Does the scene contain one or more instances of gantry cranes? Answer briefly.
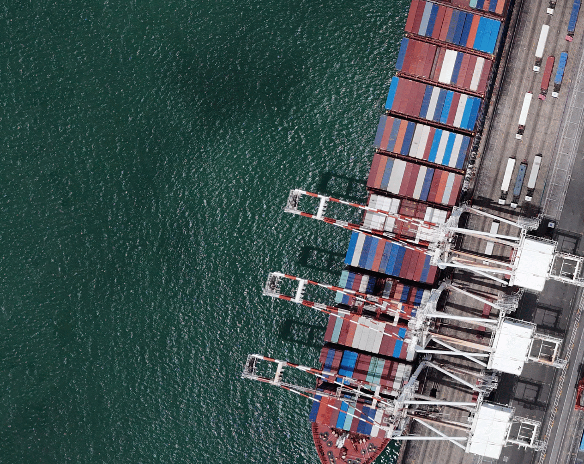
Yes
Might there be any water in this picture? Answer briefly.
Yes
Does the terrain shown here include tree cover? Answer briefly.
No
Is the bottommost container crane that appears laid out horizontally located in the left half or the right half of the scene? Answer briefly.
right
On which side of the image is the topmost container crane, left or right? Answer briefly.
right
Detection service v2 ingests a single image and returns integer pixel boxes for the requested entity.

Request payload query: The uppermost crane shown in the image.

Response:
[279,186,584,300]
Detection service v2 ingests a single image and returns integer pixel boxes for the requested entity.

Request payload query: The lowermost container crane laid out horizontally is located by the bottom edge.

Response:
[238,351,549,464]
